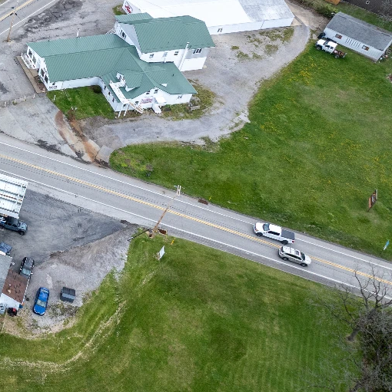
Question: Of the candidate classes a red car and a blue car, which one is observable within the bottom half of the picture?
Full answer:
Looking within the bottom half of the picture, you will find a blue car.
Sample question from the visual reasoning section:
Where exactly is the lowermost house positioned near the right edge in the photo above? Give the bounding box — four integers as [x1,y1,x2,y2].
[320,12,392,59]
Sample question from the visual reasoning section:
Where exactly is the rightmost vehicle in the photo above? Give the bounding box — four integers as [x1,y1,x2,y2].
[315,41,350,56]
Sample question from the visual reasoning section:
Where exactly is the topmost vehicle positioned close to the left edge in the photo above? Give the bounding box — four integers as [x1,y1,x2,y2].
[0,216,29,233]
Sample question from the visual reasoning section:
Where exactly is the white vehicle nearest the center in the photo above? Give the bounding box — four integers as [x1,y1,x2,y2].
[253,222,297,246]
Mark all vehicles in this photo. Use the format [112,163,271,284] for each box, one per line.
[33,284,52,315]
[278,242,315,267]
[18,249,36,278]
[0,216,29,233]
[253,222,297,246]
[315,41,350,56]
